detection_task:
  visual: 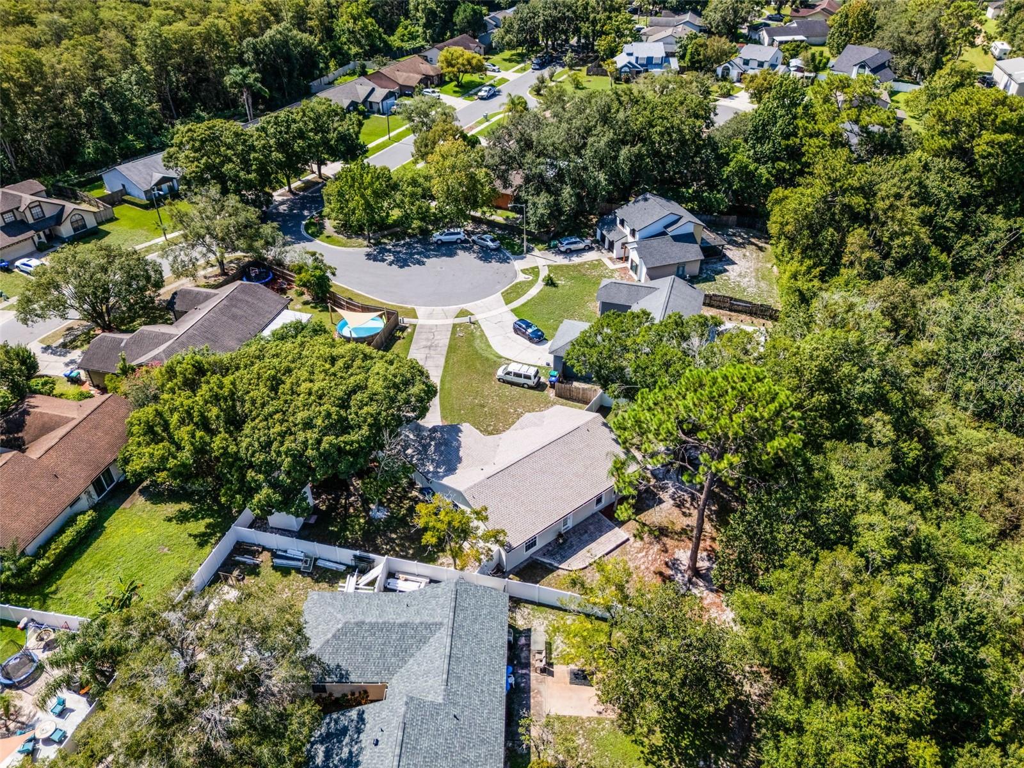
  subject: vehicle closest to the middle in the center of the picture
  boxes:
[495,361,542,387]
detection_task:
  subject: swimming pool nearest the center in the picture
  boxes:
[335,316,386,348]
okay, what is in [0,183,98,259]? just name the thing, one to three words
house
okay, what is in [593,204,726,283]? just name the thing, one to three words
house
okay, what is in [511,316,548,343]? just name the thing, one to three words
car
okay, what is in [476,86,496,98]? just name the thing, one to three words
vehicle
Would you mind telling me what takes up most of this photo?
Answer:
trees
